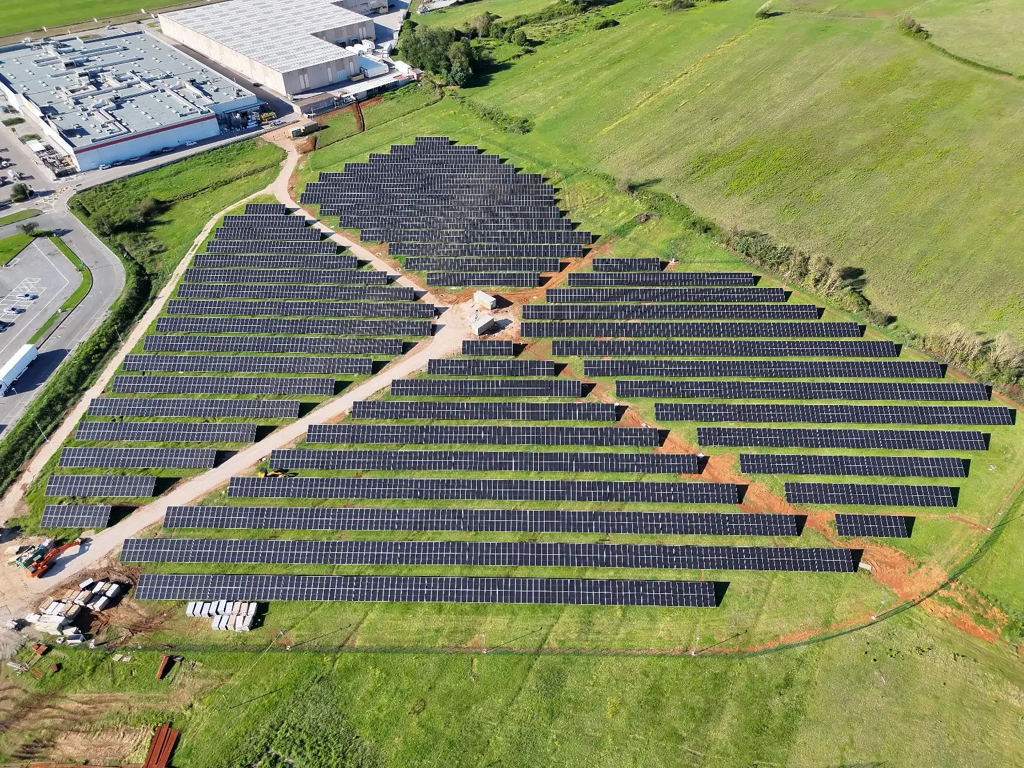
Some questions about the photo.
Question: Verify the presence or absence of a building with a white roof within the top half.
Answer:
Yes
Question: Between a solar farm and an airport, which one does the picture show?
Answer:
solar farm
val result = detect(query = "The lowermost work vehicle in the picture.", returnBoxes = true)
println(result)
[17,534,92,582]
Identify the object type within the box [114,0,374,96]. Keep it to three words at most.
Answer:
building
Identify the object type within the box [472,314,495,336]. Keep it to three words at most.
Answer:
building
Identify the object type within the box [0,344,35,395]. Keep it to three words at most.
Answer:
truck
